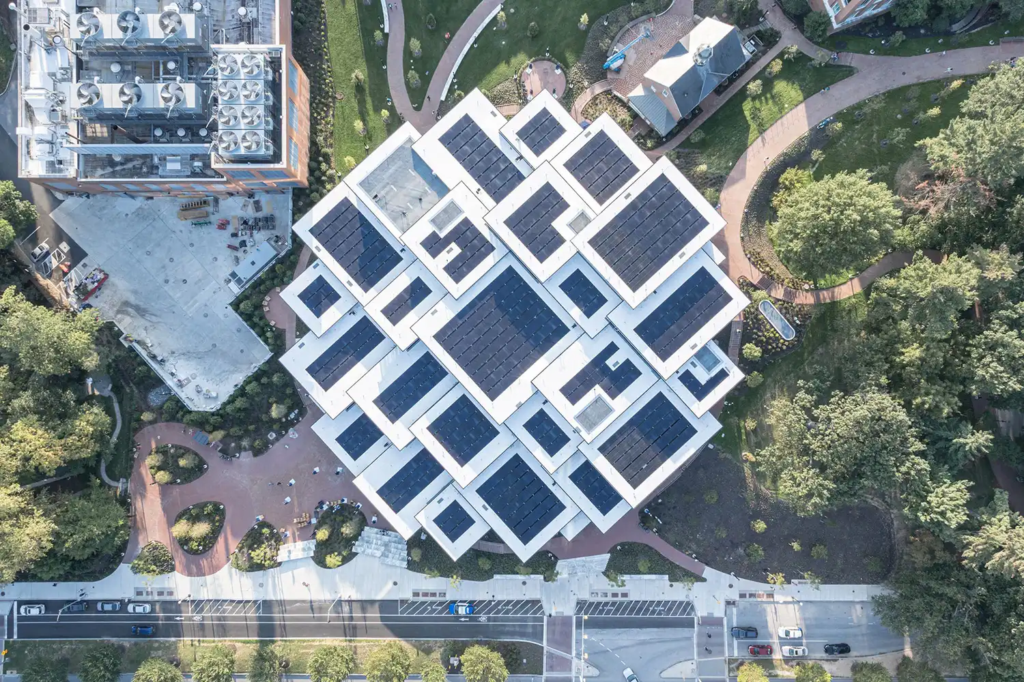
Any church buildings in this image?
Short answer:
Yes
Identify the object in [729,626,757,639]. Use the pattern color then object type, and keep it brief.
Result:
blue vehicle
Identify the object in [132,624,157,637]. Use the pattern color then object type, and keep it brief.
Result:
blue vehicle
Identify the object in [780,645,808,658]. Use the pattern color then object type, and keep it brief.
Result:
white vehicle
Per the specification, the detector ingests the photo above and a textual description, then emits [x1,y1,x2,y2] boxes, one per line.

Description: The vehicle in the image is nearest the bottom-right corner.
[823,642,850,654]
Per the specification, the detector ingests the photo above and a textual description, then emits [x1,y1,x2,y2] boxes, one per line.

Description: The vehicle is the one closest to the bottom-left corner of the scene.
[21,603,47,616]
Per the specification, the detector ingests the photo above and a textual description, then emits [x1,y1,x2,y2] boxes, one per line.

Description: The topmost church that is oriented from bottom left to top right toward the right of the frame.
[627,16,747,137]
